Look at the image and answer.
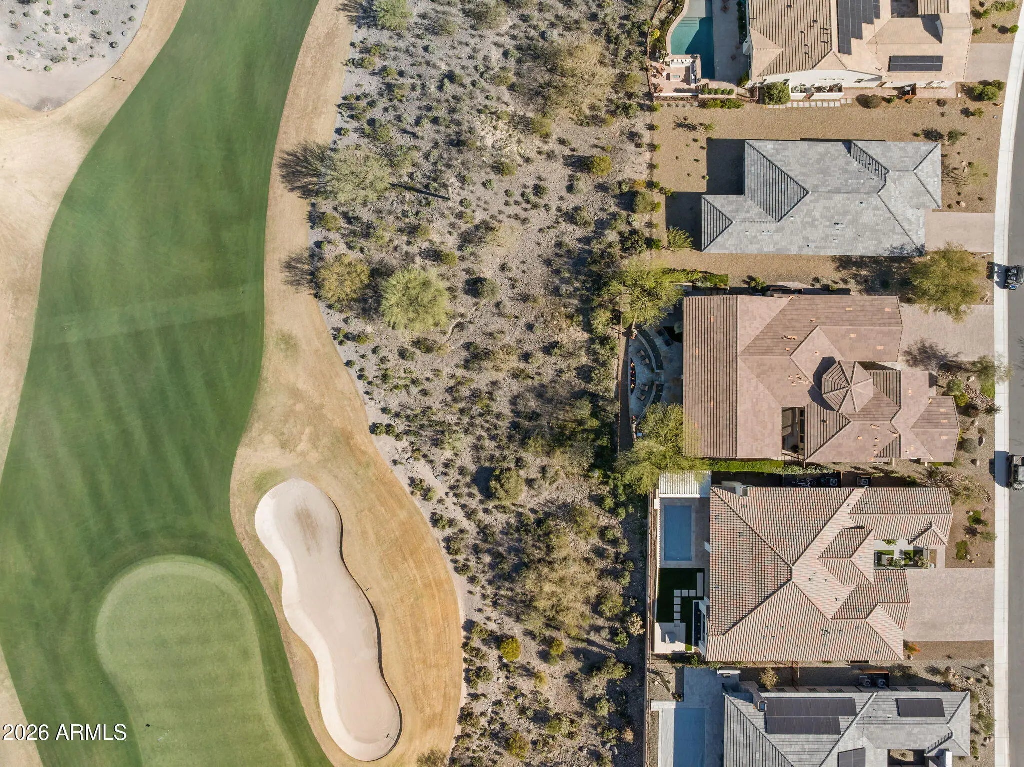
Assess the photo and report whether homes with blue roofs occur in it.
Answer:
No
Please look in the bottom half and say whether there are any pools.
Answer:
Yes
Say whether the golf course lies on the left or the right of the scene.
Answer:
left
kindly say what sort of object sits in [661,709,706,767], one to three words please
swimming pool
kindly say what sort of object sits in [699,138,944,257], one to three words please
house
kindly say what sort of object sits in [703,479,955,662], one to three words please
house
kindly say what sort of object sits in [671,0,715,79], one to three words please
swimming pool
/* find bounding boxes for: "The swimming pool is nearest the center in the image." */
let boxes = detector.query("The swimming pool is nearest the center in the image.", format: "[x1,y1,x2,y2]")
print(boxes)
[665,506,692,561]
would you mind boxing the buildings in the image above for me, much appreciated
[703,479,955,662]
[682,294,962,468]
[724,679,971,767]
[699,138,944,257]
[741,0,979,90]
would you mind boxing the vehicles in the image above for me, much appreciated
[1009,456,1024,493]
[1006,266,1024,292]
